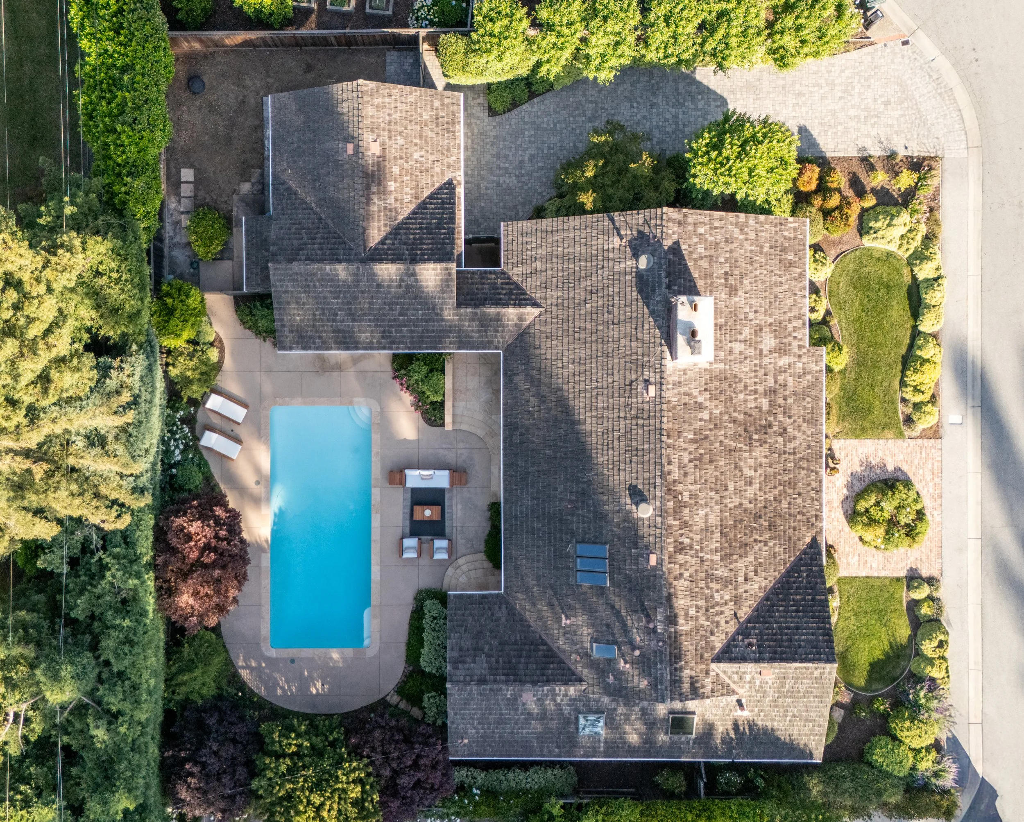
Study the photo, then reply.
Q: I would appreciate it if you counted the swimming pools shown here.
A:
one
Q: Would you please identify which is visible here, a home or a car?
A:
home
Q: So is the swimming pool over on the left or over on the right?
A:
left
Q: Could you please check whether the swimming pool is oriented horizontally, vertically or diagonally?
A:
vertically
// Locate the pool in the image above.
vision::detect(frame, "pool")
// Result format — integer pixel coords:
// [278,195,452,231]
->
[270,405,372,649]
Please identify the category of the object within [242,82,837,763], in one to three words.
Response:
house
